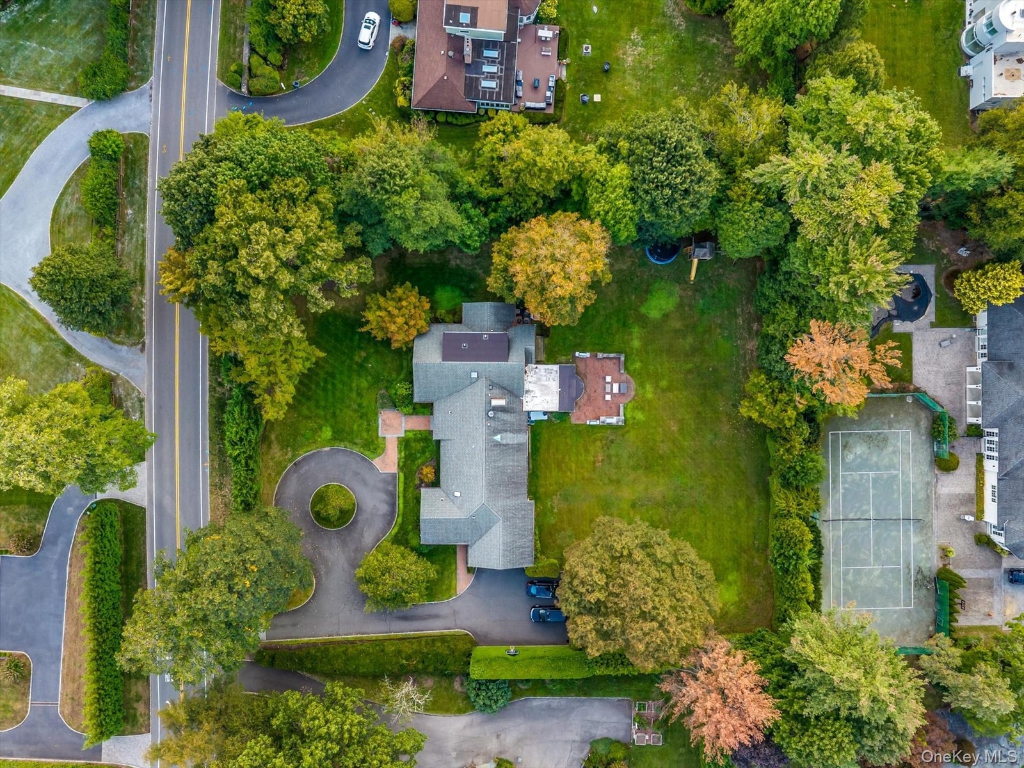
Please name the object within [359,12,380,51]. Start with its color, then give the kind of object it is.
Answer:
white car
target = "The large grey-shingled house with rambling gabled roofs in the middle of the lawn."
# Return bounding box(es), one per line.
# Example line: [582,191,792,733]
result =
[411,303,584,569]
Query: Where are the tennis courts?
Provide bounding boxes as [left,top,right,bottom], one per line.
[820,395,935,647]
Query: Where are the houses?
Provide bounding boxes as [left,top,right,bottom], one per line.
[411,303,584,569]
[411,0,540,117]
[966,295,1024,559]
[961,0,1024,110]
